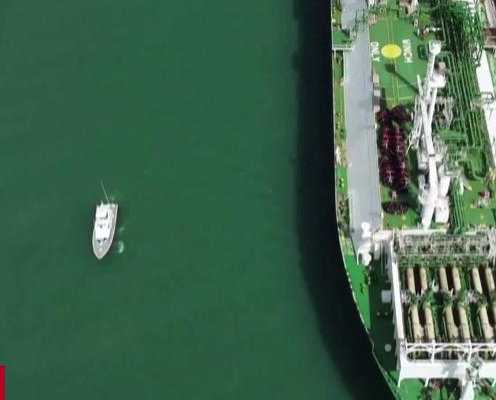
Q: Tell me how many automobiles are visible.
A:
zero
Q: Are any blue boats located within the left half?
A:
No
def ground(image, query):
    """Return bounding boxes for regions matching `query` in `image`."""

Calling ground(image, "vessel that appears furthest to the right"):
[331,0,496,400]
